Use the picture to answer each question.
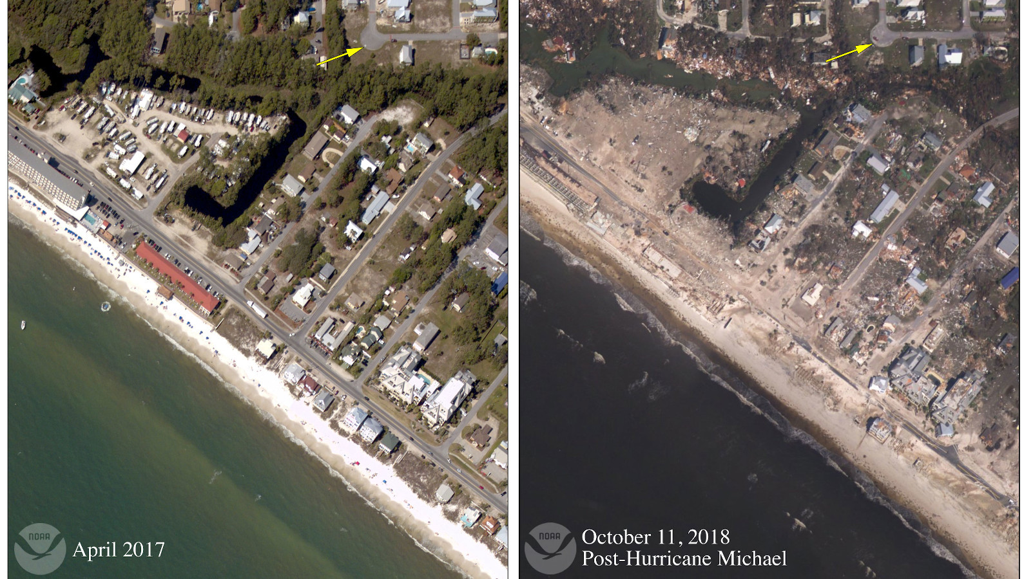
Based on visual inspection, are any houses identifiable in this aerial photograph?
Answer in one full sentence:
Yes, the picture does show a house.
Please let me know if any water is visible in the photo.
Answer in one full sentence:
Yes, there's water in this view.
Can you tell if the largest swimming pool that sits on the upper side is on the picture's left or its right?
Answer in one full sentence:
The largest swimming pool that sits on the upper side is on the left side of the image.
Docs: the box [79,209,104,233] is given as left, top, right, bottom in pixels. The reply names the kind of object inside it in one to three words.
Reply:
swimming pool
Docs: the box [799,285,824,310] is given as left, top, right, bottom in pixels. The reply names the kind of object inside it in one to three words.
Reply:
building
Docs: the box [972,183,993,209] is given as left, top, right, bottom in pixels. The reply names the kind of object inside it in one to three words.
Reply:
house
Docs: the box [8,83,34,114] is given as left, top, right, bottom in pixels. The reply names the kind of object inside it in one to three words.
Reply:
house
